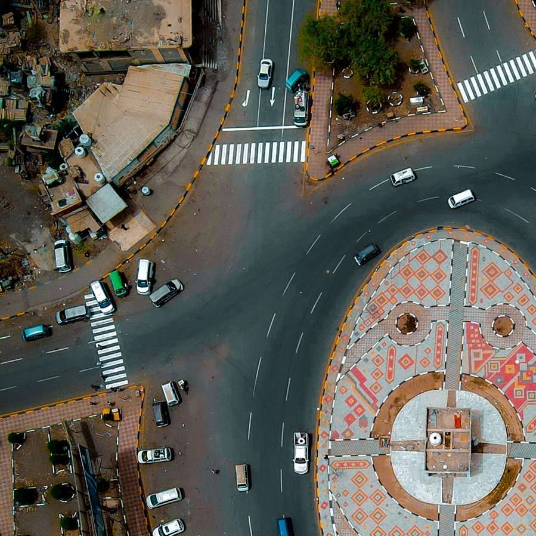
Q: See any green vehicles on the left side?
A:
Yes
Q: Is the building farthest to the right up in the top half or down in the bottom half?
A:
bottom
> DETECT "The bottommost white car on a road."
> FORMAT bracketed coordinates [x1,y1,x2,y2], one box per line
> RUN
[152,518,187,536]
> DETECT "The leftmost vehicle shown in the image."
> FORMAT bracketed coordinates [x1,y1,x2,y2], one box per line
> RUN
[21,325,51,343]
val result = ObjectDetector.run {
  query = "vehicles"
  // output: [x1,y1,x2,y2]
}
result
[161,380,180,407]
[56,304,92,324]
[352,242,382,266]
[134,257,153,295]
[148,279,185,307]
[258,58,273,91]
[138,446,174,462]
[88,279,115,315]
[292,432,309,475]
[21,325,51,343]
[152,399,170,426]
[146,487,184,507]
[278,516,294,536]
[445,187,476,209]
[292,90,309,128]
[235,463,249,492]
[152,518,187,536]
[107,269,128,297]
[53,240,72,273]
[387,166,419,187]
[284,67,308,94]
